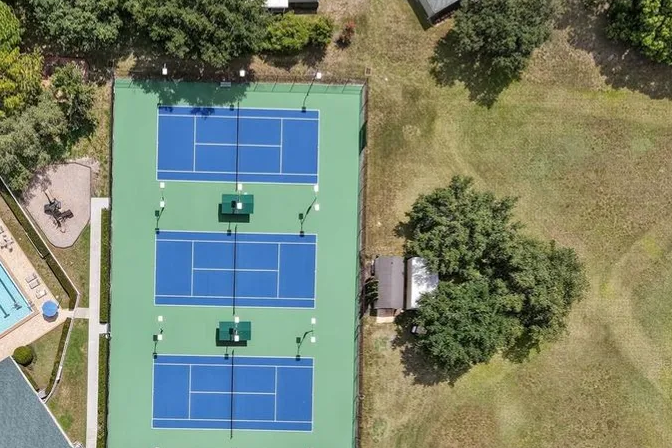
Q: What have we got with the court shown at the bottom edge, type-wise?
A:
tennis court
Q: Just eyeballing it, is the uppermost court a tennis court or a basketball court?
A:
tennis court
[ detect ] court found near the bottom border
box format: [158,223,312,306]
[151,348,315,438]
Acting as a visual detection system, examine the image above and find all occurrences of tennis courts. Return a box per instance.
[153,224,317,313]
[156,99,319,189]
[151,348,315,438]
